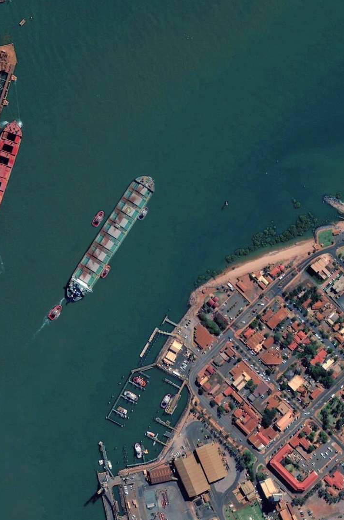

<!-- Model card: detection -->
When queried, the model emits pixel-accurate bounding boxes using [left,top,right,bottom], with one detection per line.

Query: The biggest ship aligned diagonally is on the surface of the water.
[61,173,150,305]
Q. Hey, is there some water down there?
Yes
